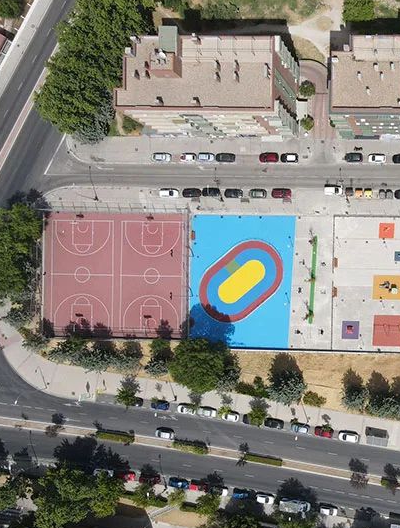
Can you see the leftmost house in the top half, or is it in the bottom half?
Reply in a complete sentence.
The leftmost house sits in the top half of the picture.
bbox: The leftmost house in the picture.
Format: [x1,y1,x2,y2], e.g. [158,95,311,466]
[0,35,21,69]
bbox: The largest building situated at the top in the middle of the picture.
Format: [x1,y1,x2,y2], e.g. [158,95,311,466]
[113,25,302,144]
